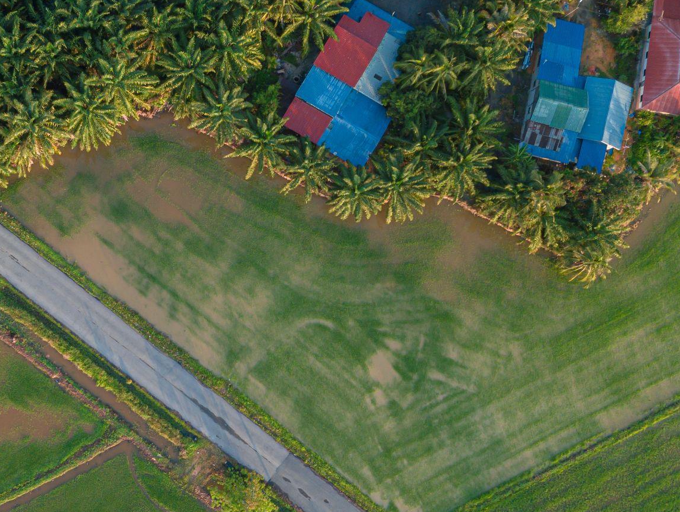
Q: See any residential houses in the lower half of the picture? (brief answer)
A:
No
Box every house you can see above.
[517,18,634,174]
[634,0,680,114]
[282,0,406,166]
